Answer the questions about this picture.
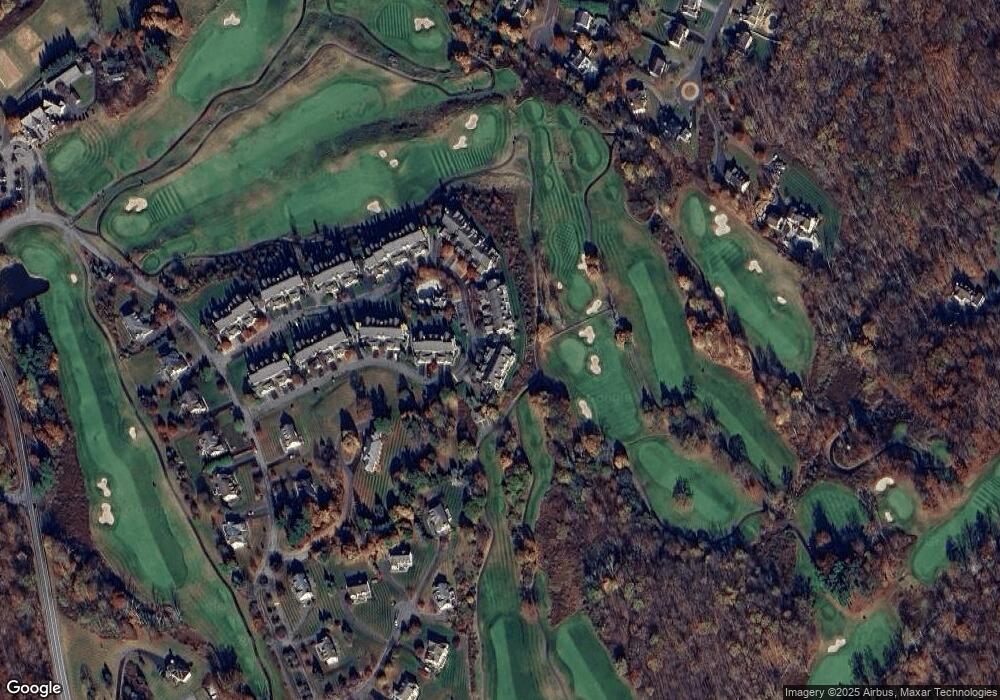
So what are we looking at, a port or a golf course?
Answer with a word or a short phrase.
golf course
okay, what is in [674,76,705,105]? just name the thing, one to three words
roundabout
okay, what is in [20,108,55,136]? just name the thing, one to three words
building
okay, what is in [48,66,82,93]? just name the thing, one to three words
barn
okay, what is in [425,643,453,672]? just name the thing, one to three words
house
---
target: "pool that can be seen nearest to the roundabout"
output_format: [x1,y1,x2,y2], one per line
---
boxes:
[767,13,780,35]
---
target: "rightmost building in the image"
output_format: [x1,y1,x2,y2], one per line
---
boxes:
[951,282,986,309]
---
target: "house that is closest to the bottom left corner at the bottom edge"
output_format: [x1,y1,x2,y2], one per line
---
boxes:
[165,662,194,681]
